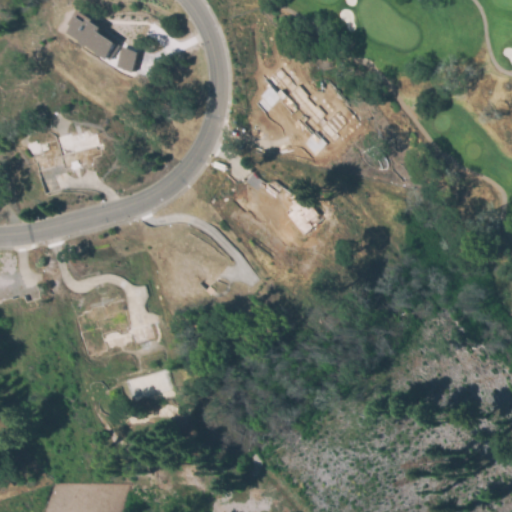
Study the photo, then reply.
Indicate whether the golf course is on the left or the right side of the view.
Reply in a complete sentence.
The golf course sits on the right side.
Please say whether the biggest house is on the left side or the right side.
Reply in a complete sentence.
The biggest house sits on the left side.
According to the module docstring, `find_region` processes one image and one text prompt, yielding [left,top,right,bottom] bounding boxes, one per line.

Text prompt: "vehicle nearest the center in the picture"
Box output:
[212,160,229,172]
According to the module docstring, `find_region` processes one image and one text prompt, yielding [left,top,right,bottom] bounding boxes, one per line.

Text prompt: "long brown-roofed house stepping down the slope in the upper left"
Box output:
[66,12,120,57]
